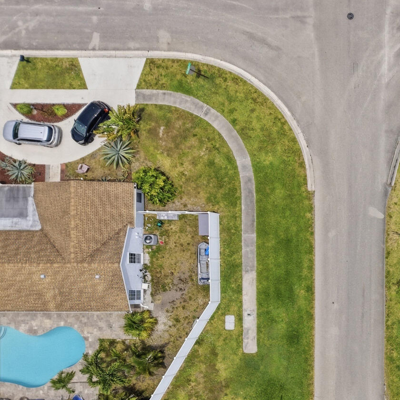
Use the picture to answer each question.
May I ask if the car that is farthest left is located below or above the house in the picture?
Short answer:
above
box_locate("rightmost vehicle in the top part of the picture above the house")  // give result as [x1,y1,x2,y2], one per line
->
[70,97,109,147]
